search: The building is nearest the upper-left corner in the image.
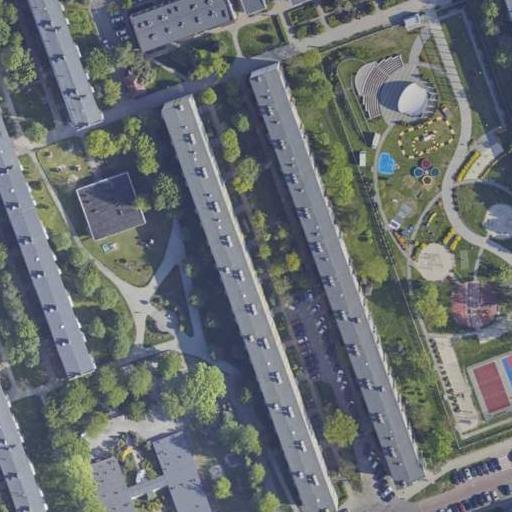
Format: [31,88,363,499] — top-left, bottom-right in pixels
[29,0,105,131]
